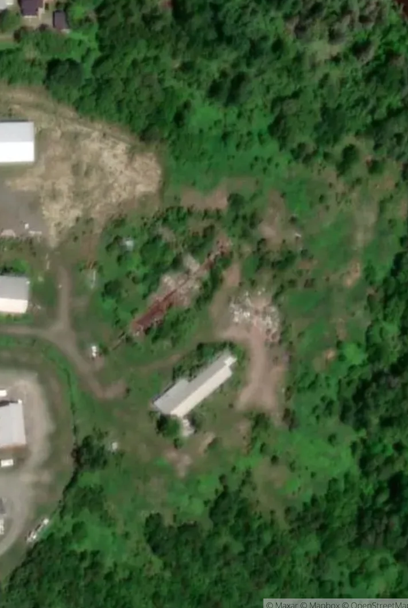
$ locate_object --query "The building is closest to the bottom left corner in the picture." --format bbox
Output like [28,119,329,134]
[0,399,26,447]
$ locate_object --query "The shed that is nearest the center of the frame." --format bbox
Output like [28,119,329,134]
[131,287,185,338]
